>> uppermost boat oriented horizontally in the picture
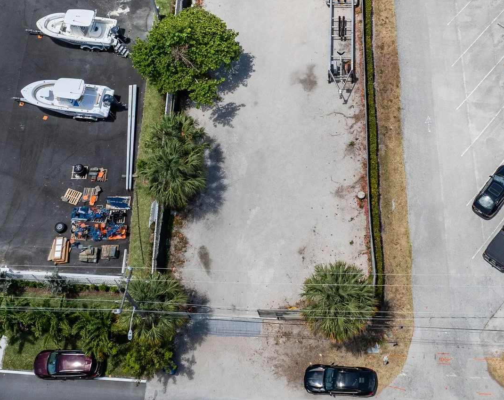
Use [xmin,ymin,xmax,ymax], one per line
[37,10,124,49]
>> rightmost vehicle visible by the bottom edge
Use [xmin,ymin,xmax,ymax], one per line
[304,361,377,400]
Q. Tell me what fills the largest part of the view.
paved ground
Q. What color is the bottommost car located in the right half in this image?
black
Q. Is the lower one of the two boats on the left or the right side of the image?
left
